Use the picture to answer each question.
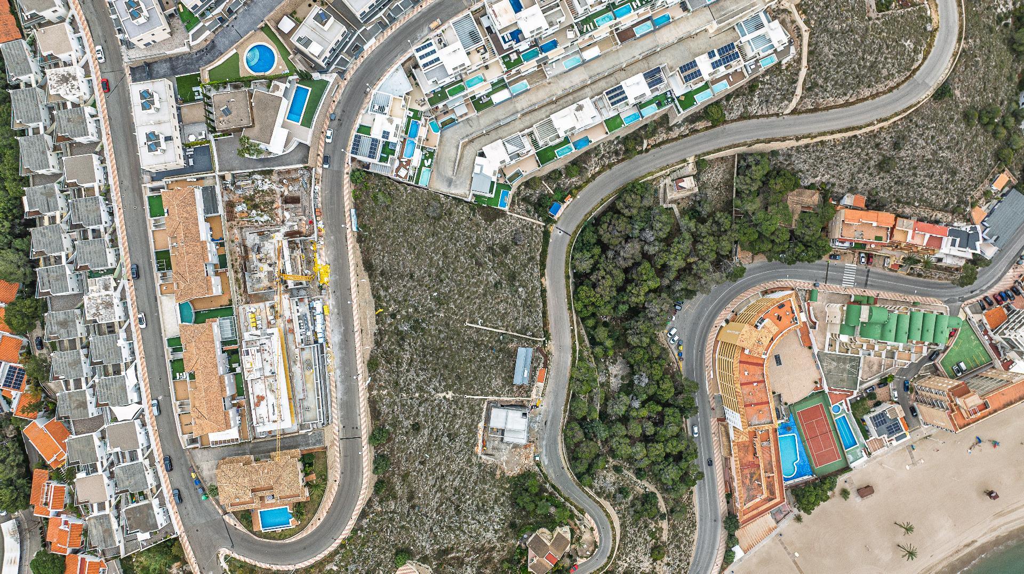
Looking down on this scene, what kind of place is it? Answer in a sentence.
What you see here is a residential area.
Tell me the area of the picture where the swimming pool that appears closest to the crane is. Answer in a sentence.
Look in the bottom left portion of the view to spot the swimming pool that appears closest to the crane.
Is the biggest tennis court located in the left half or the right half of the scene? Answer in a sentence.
The biggest tennis court is on the right side of the image.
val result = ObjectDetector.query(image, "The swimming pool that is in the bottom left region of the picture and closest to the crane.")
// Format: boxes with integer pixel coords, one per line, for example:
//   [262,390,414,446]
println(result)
[264,506,295,532]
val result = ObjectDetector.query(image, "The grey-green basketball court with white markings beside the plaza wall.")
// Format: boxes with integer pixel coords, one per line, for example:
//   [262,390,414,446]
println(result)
[818,351,863,390]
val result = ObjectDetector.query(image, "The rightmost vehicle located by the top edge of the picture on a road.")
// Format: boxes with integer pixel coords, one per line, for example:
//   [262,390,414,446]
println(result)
[426,15,444,30]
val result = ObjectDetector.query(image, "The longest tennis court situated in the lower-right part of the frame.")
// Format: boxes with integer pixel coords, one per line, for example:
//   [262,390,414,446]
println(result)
[789,394,852,479]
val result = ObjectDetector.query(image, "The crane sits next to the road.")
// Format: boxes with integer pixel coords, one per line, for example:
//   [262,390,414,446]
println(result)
[272,241,320,463]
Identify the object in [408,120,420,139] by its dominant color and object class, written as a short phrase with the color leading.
blue swimming pool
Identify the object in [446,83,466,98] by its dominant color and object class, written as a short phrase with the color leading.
green swimming pool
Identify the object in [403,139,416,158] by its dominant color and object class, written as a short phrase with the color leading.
blue swimming pool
